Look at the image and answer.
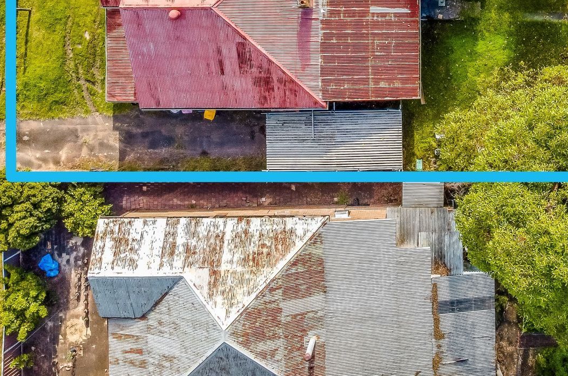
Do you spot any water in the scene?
No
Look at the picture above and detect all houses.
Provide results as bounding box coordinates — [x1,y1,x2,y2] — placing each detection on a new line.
[87,216,434,376]
[99,0,421,111]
